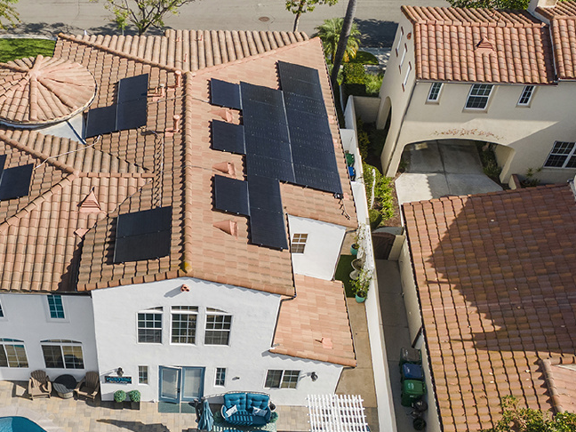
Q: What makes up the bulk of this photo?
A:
buildings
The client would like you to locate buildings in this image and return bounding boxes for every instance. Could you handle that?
[379,0,576,432]
[0,33,362,407]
